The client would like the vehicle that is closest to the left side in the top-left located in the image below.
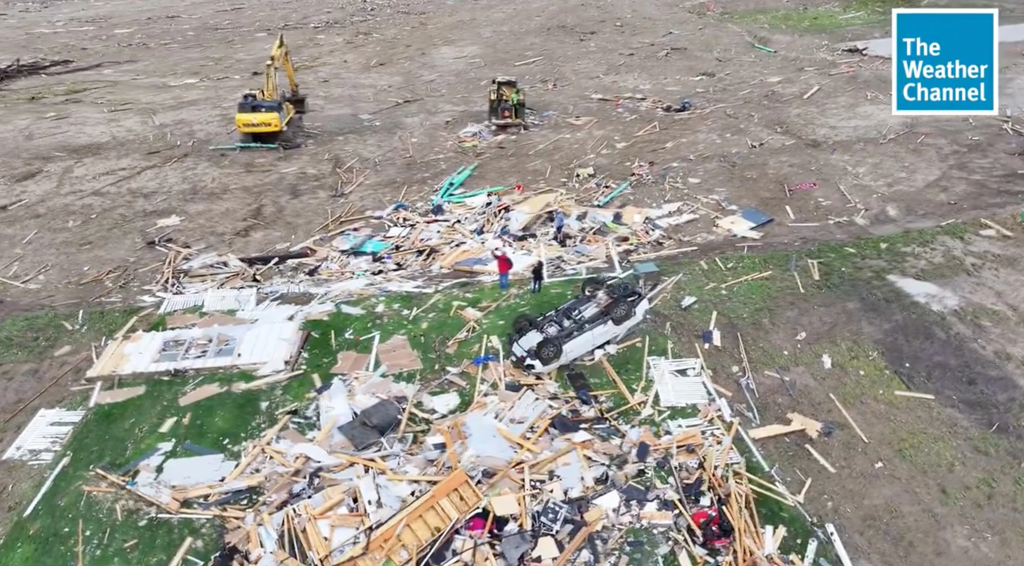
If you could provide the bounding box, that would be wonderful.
[235,30,312,141]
